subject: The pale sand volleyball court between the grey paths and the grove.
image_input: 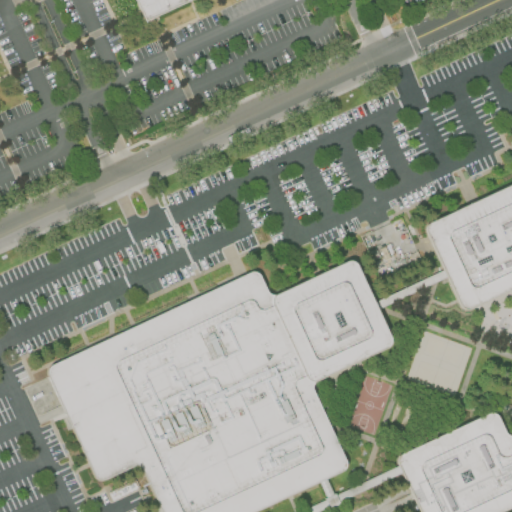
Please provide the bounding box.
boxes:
[410,332,472,392]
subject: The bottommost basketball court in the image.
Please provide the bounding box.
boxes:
[352,376,392,436]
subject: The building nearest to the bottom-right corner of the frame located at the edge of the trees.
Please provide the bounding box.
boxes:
[397,414,512,512]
